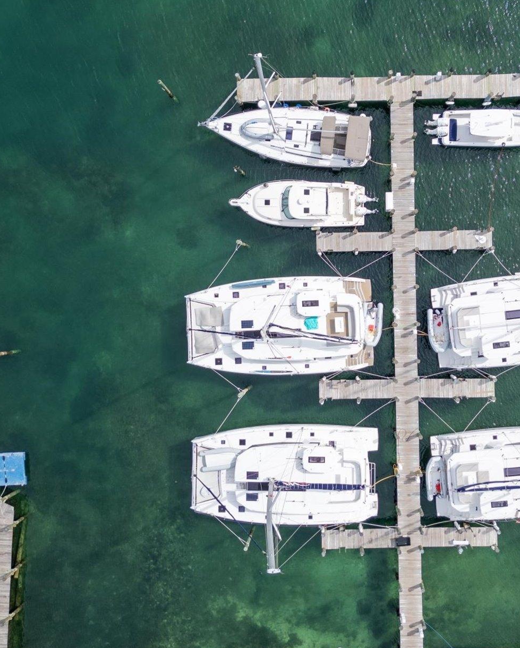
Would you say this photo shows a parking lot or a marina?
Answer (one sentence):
What you see here is a marina.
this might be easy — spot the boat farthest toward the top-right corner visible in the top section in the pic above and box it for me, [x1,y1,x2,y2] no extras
[421,109,520,147]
